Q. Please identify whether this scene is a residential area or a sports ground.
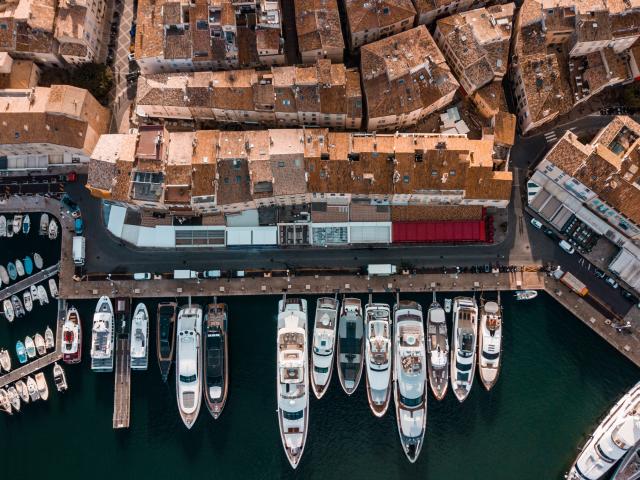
residential area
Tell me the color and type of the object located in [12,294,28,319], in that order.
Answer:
gray boat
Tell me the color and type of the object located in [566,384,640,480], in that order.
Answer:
white boat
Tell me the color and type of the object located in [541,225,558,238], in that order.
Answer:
black vehicle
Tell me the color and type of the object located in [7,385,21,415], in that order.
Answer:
white boat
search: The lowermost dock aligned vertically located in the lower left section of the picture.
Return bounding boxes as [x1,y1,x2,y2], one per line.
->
[112,341,132,429]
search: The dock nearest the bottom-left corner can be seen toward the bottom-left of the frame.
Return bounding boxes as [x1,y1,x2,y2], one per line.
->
[0,348,62,386]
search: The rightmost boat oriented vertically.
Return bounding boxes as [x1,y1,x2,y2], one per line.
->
[474,292,505,398]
